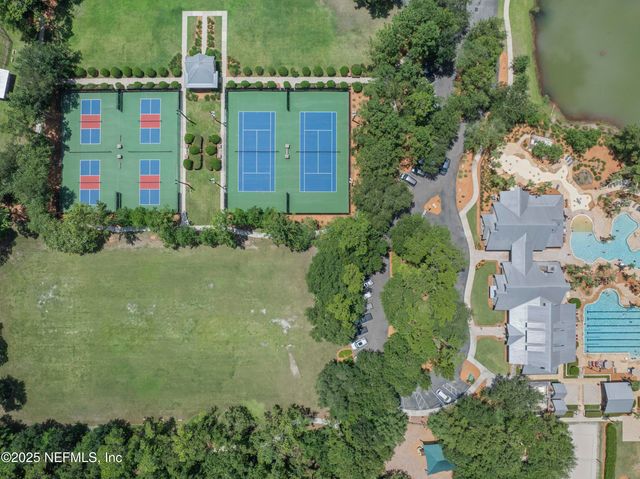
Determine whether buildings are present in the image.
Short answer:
Yes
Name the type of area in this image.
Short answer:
sports ground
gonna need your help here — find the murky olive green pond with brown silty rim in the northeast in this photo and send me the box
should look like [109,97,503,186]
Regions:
[536,0,640,128]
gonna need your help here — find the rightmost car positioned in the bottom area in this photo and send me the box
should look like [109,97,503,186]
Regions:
[436,388,451,402]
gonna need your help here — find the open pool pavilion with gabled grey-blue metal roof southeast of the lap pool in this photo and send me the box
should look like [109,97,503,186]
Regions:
[599,381,635,413]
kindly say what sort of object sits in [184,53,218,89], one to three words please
gazebo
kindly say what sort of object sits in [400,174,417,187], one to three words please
vehicle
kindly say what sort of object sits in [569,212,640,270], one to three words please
swimming pool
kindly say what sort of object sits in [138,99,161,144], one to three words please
sports court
